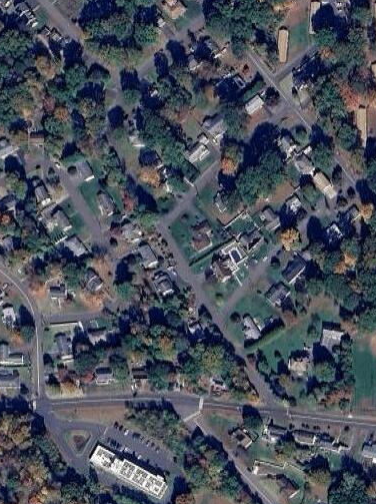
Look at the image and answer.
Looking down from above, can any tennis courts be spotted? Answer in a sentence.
No, this view has no tennis court in it.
